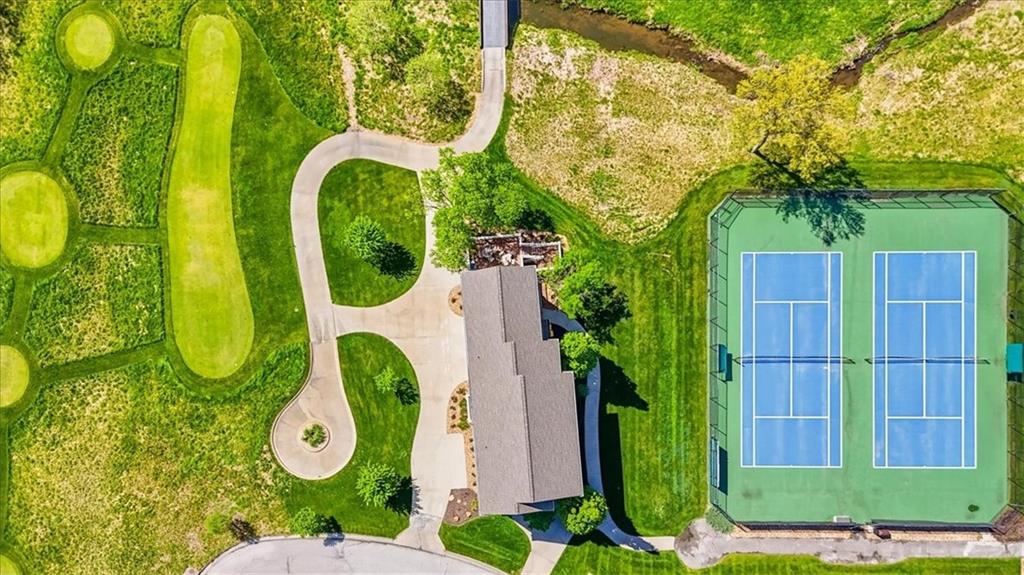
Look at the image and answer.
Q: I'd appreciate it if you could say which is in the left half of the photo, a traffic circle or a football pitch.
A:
traffic circle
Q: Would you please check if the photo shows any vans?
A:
No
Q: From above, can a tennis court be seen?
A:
Yes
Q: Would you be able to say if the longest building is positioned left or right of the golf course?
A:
to the right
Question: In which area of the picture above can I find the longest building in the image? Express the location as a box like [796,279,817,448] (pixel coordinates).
[461,267,584,517]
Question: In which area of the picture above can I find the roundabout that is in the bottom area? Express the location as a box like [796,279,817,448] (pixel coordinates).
[271,352,356,480]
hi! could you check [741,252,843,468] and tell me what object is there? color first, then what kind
blue tennis court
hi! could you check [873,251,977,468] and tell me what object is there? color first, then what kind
blue tennis court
